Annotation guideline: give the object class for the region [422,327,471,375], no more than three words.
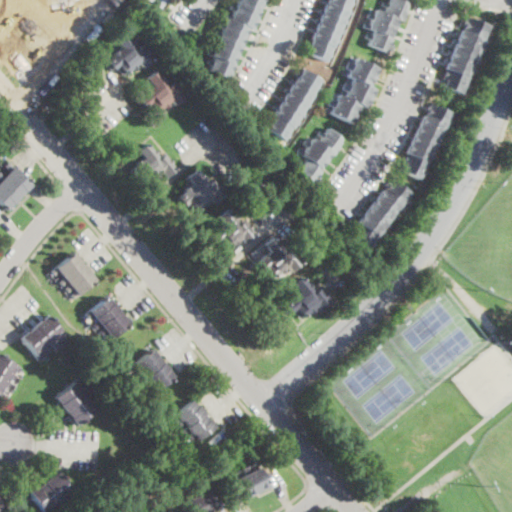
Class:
tennis court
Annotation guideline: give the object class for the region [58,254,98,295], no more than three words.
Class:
house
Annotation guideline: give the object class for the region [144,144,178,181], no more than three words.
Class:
house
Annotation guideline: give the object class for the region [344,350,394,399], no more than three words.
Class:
tennis court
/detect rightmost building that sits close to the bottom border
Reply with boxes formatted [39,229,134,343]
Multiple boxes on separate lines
[242,466,274,500]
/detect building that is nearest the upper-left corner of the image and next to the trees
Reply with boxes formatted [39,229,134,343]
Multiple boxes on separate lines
[112,43,144,74]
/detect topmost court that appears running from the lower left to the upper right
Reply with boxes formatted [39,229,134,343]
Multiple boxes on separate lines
[402,302,452,350]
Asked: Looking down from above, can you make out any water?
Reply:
No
